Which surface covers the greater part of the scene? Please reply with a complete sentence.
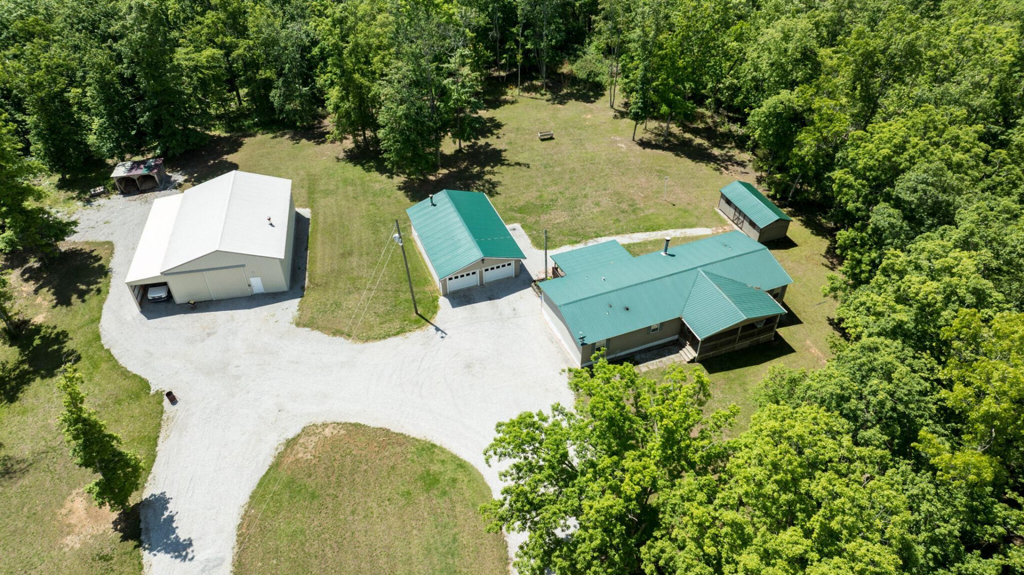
Most of the picture is covered by trees.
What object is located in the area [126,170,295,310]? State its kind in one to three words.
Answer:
barn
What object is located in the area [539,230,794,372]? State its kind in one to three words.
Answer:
house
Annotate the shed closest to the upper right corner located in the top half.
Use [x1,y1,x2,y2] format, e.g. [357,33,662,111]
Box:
[712,181,793,243]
